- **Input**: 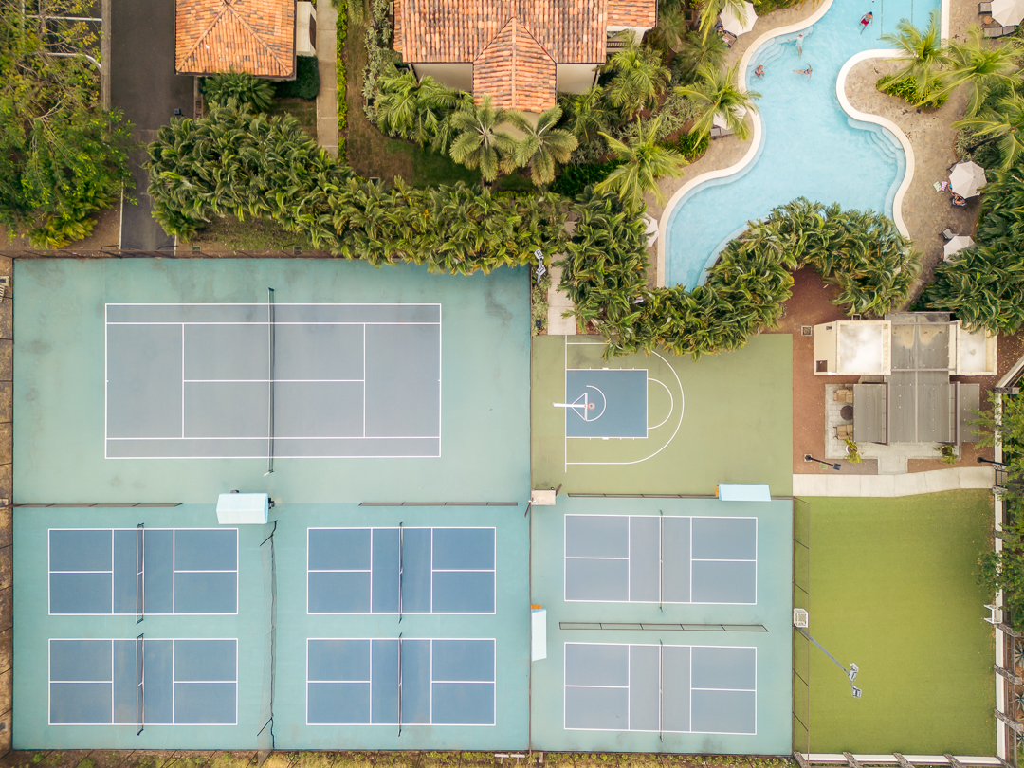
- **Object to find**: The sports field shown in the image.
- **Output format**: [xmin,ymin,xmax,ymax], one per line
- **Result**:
[795,490,996,756]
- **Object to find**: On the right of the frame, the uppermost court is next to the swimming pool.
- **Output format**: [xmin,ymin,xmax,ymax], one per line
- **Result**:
[531,334,793,496]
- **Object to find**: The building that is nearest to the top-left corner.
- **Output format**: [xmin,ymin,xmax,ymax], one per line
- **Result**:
[173,0,323,82]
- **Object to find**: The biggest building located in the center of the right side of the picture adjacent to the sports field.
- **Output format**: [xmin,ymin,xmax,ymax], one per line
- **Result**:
[816,312,997,445]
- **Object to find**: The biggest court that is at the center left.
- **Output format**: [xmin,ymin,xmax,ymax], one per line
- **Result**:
[12,258,530,503]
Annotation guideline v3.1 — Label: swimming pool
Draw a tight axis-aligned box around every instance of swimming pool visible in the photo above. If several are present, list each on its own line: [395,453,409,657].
[654,0,951,305]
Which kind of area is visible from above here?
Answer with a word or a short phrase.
sports ground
